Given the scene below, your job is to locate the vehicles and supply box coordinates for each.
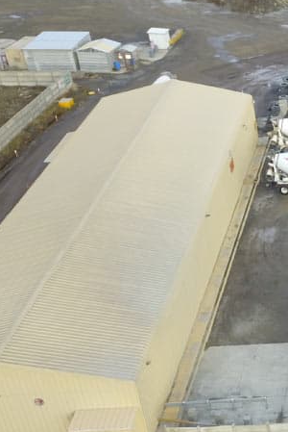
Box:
[268,146,288,190]
[268,115,288,150]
